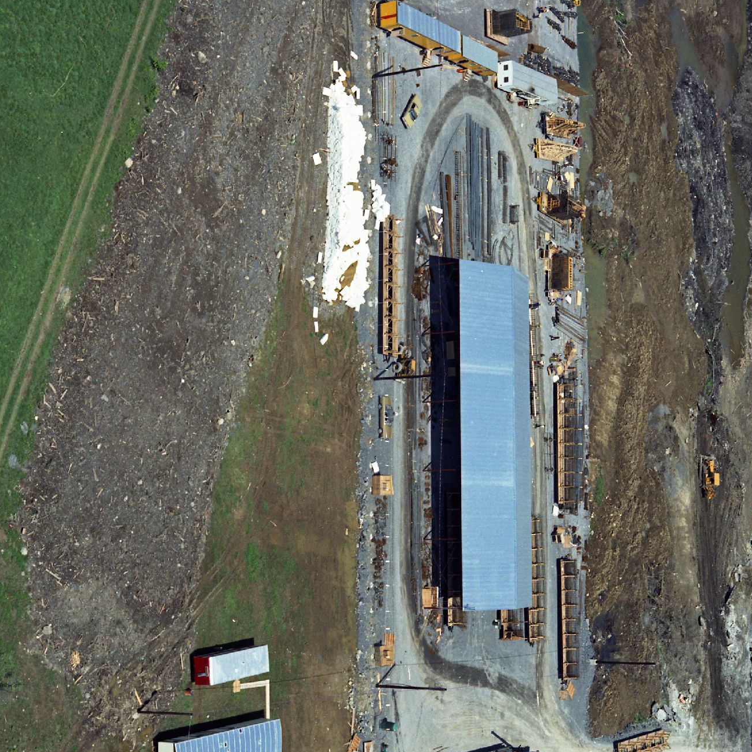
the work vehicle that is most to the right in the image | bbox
[702,461,721,498]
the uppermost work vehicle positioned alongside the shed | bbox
[398,341,425,383]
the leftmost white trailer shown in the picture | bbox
[196,645,270,685]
